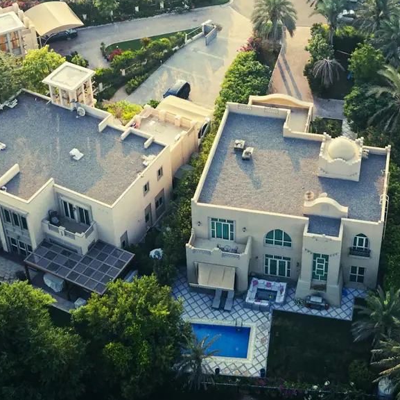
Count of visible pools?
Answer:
1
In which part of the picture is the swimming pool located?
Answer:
bottom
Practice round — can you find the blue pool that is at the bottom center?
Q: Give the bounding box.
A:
[180,313,256,364]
